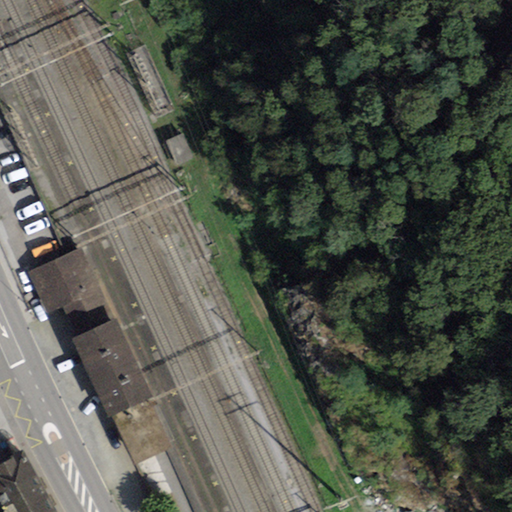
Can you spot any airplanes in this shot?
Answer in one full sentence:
No, no airplane can be seen from above.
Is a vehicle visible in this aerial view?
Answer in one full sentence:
Yes, you can see a vehicle in this photo.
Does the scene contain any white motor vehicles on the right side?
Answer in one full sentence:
No, no white motor vehicle is visible on the right side.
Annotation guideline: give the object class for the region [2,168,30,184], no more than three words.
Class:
vehicle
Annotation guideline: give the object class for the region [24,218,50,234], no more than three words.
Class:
car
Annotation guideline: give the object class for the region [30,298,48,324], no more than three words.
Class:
car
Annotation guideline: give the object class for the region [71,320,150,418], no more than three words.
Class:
building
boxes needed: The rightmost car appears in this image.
[108,426,124,450]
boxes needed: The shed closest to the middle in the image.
[166,134,194,164]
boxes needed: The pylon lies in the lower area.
[324,494,358,508]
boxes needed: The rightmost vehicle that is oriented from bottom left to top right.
[80,395,100,416]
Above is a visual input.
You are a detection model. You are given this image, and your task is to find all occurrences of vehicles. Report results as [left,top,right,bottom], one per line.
[24,218,50,234]
[17,202,44,219]
[32,238,59,256]
[2,168,30,184]
[0,129,14,142]
[80,395,100,416]
[10,180,32,194]
[0,154,21,166]
[17,270,34,294]
[56,358,78,372]
[108,426,124,450]
[30,298,48,324]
